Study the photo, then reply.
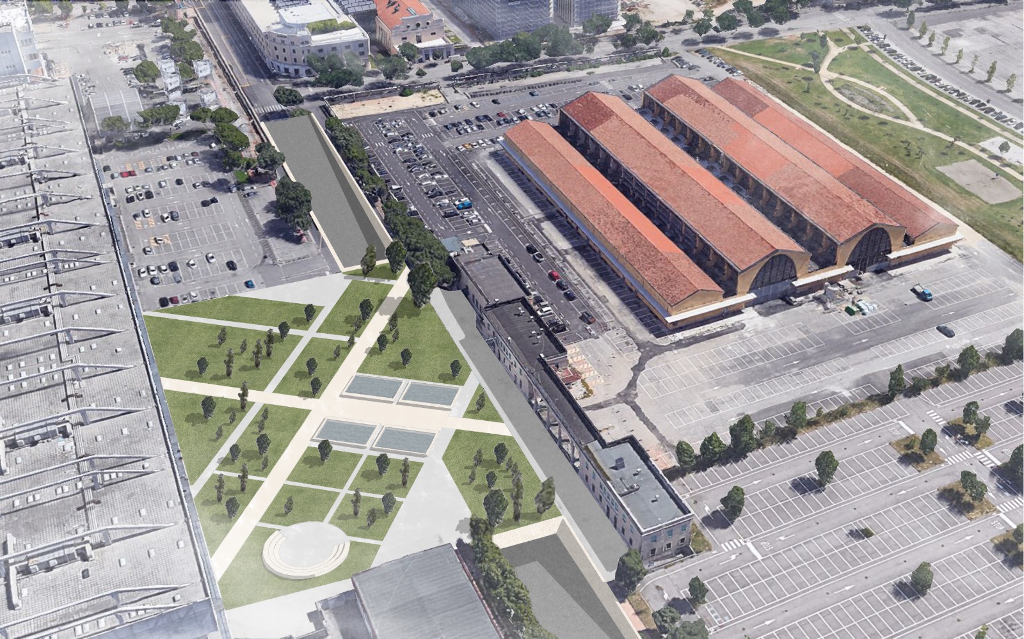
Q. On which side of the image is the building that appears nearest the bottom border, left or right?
left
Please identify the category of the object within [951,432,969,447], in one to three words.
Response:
car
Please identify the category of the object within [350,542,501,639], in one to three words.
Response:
shed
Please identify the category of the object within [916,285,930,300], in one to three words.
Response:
vehicle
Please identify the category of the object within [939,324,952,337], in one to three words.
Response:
vehicle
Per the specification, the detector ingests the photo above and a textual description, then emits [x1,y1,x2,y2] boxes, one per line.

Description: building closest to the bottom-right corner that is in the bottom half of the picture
[579,430,695,565]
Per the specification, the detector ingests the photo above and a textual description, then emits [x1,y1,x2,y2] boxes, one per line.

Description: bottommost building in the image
[289,596,363,639]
